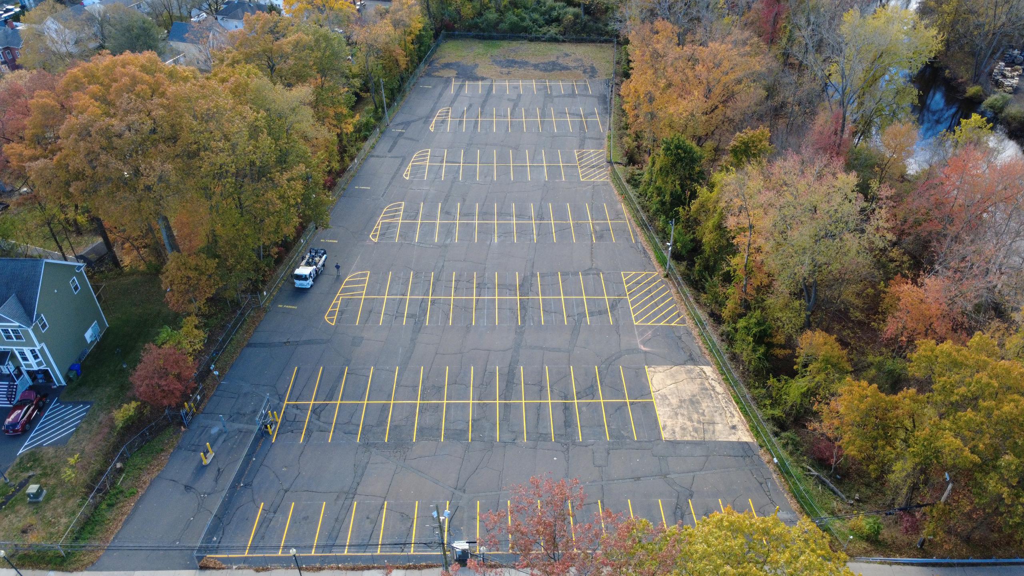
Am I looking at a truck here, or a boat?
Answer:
truck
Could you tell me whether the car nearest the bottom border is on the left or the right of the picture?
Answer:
left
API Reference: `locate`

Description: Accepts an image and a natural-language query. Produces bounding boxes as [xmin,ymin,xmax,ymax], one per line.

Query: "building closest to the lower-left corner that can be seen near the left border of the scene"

[0,257,108,413]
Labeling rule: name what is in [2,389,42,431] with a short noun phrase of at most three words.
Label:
car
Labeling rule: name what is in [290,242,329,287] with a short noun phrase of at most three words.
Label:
truck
